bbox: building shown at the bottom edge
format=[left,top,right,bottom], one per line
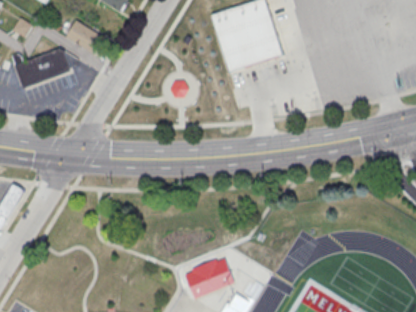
[188,258,234,298]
